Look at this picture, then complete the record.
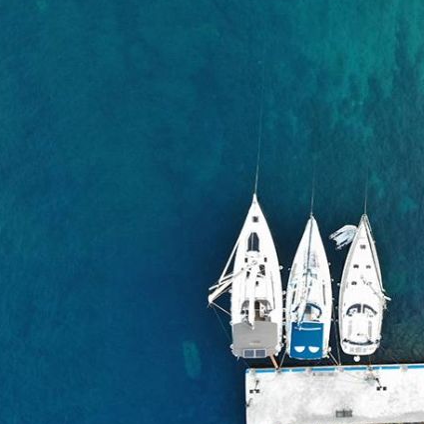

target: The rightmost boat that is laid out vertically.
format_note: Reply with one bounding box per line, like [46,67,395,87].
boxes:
[339,179,390,370]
